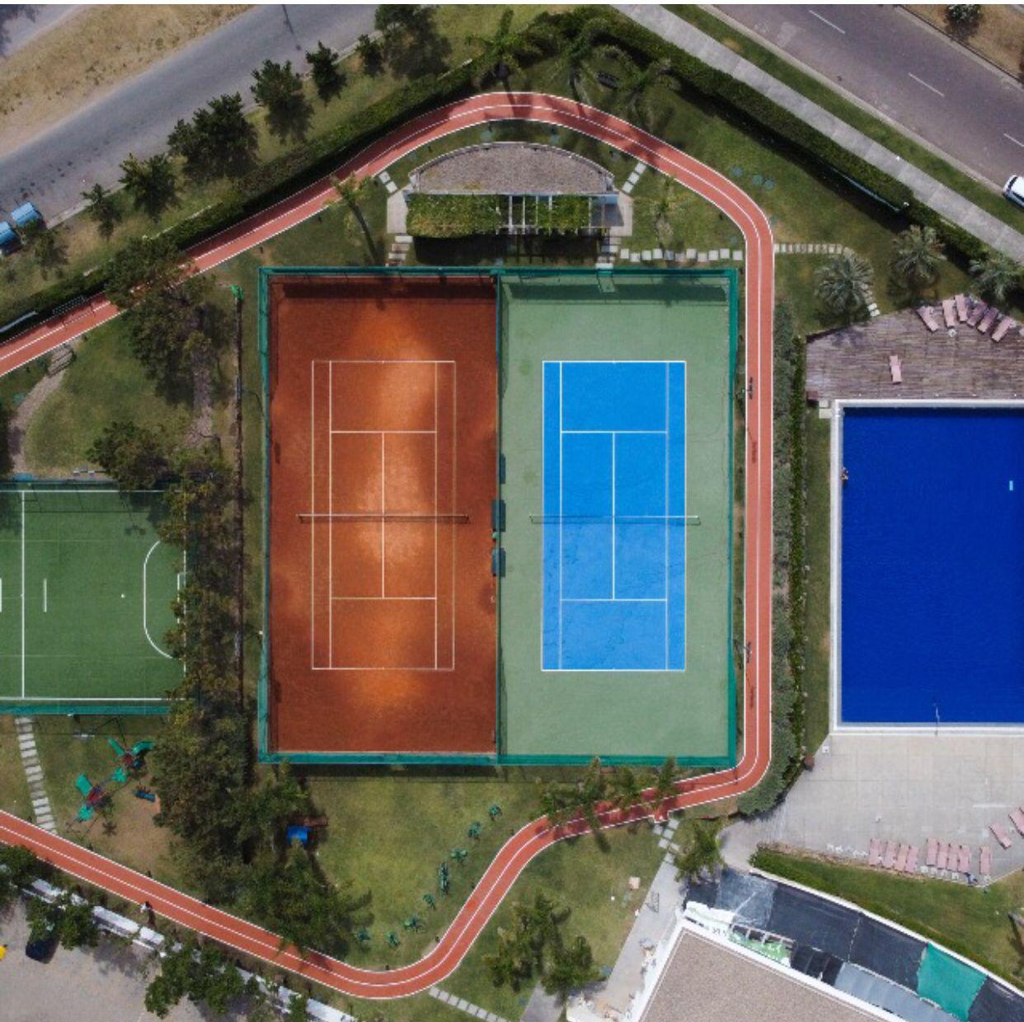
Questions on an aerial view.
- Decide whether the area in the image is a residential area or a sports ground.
sports ground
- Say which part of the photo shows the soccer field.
left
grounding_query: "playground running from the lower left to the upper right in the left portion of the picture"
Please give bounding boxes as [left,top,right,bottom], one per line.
[69,736,156,828]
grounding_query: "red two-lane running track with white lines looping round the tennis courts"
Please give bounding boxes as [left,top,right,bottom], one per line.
[0,92,773,999]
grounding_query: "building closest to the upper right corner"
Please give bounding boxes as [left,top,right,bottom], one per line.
[409,141,624,238]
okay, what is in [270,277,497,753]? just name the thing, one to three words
tennis court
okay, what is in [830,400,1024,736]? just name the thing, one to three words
swimming pool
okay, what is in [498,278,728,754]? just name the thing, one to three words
tennis court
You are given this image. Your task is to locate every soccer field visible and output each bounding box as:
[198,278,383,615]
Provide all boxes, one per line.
[0,481,195,703]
